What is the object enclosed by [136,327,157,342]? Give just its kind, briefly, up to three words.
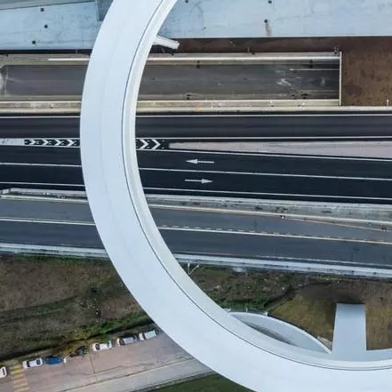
vehicle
